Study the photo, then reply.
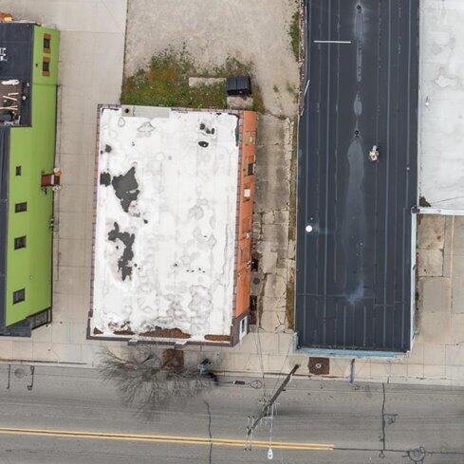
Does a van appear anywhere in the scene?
No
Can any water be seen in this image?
No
